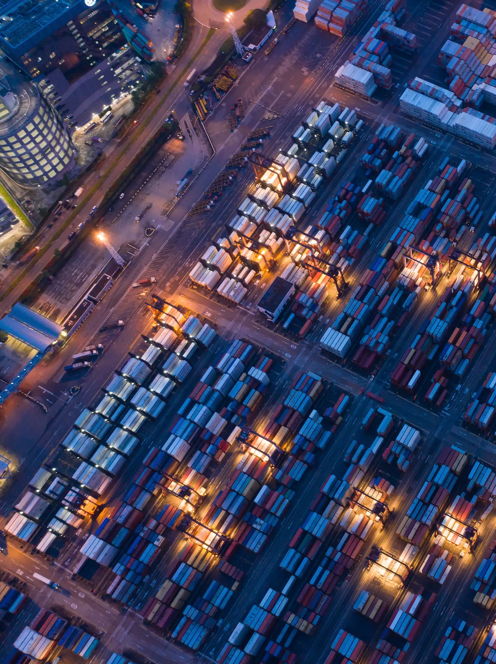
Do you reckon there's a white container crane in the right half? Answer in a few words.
No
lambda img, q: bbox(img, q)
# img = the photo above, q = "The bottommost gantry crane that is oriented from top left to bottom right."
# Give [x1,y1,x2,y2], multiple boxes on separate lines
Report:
[366,546,414,587]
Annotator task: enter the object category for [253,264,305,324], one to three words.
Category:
building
